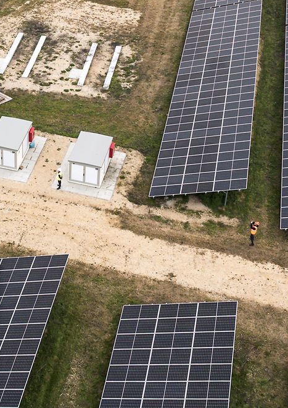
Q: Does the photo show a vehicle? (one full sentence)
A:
No, I find no vehicle anywhere in the image.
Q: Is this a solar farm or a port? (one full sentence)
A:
This image shows a solar farm.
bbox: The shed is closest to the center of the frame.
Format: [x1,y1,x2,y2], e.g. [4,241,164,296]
[66,123,118,187]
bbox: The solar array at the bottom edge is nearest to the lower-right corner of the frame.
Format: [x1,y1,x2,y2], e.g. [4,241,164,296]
[99,301,237,408]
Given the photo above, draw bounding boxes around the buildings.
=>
[66,123,118,187]
[0,110,36,170]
